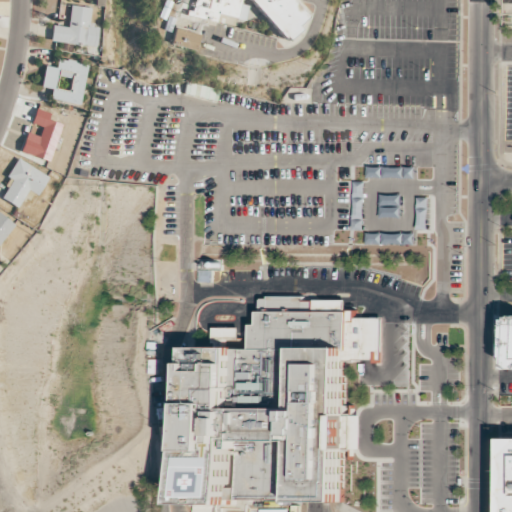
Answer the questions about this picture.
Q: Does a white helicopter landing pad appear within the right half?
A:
No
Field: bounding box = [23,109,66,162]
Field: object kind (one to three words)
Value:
house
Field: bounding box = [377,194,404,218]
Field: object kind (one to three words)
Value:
building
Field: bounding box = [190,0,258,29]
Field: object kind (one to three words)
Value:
building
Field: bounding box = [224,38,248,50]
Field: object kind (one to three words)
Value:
vehicle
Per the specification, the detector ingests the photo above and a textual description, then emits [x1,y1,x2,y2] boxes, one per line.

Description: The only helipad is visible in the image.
[164,458,206,498]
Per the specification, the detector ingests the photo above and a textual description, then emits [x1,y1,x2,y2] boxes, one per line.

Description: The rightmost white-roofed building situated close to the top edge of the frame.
[255,0,319,40]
